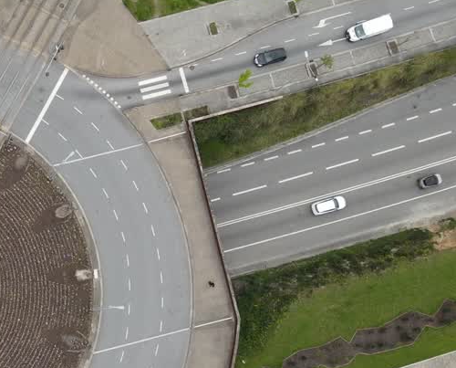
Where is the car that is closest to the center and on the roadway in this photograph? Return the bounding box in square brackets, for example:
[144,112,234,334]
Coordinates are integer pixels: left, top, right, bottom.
[309,196,344,215]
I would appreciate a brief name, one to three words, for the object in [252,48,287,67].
car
